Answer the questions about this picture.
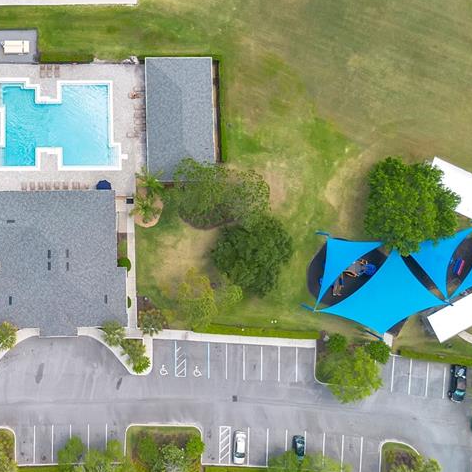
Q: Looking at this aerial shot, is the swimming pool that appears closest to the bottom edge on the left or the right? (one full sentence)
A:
The swimming pool that appears closest to the bottom edge sits on the left side.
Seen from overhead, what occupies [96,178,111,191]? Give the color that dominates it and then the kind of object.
blue umbrella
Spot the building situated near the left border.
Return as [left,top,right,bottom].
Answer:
[0,191,127,337]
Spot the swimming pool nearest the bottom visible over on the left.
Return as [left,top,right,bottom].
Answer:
[0,78,127,171]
